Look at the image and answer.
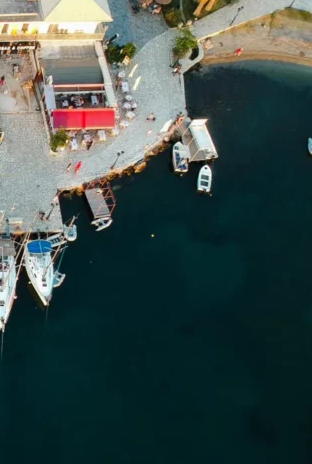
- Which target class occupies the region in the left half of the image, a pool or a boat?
boat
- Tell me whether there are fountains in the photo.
No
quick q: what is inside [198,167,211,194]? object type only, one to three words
boat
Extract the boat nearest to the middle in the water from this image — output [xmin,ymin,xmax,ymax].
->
[90,218,113,232]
